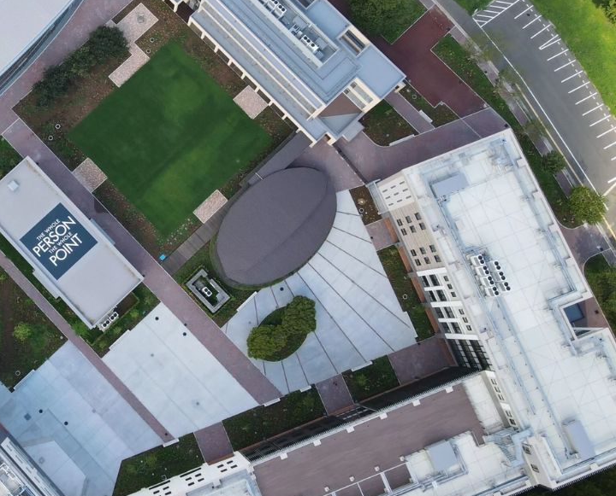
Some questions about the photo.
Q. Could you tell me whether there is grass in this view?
Yes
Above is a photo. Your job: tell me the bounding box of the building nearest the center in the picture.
[210,167,335,290]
